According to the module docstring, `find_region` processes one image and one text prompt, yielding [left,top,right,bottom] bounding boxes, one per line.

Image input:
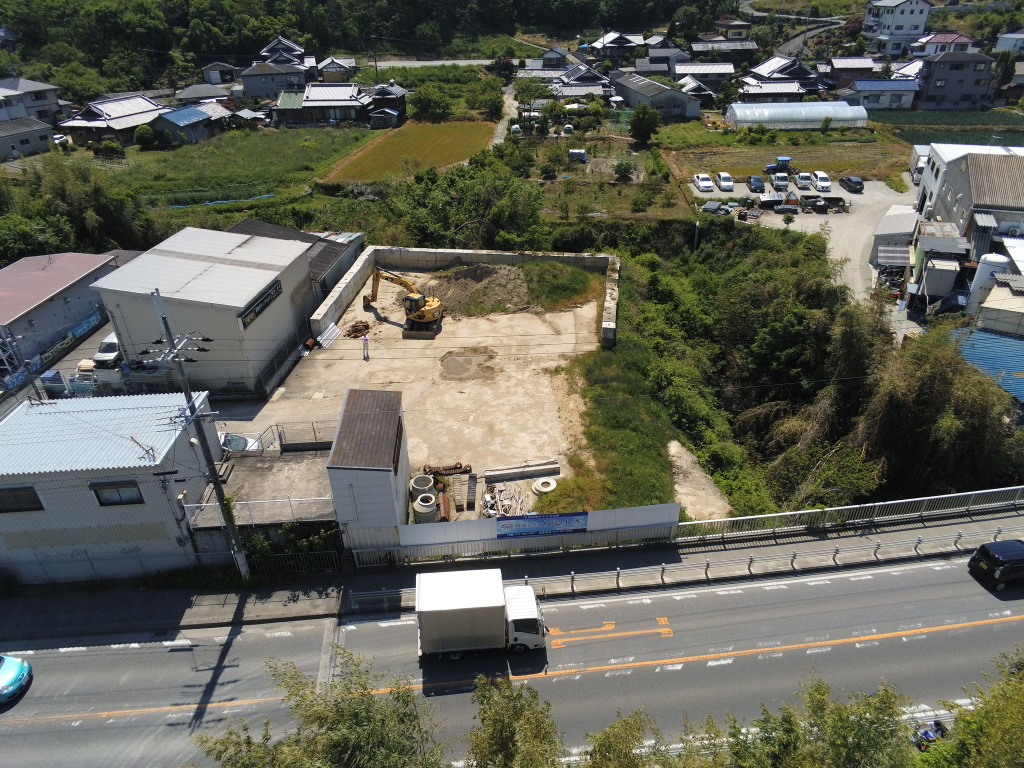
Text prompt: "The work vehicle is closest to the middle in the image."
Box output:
[356,256,440,337]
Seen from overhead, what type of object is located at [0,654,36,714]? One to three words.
car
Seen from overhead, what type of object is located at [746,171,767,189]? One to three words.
car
